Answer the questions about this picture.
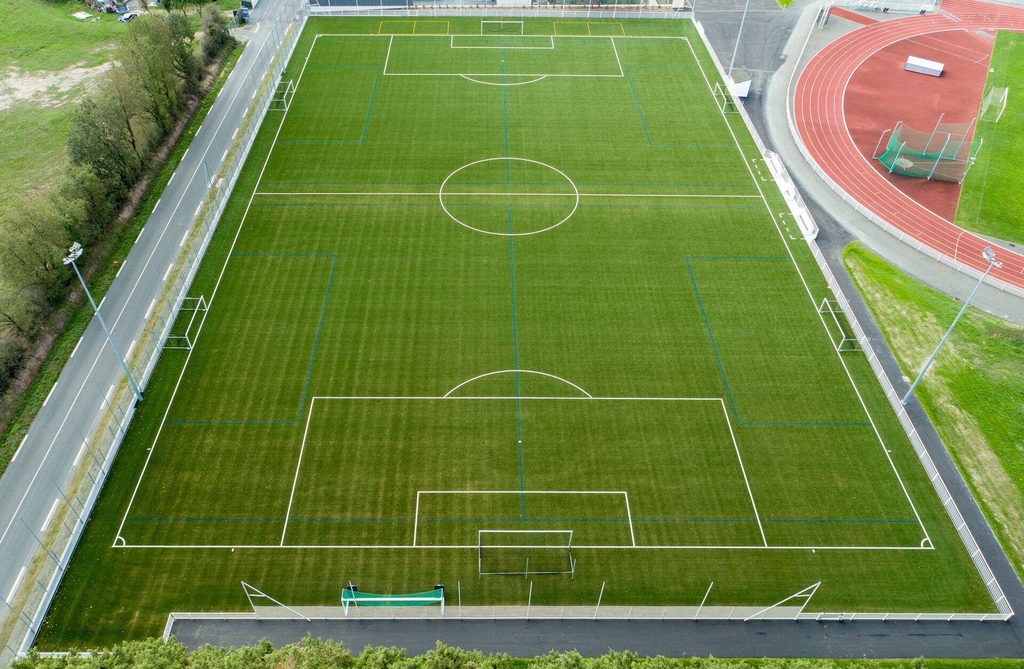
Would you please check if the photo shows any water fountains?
No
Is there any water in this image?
No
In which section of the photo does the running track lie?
top right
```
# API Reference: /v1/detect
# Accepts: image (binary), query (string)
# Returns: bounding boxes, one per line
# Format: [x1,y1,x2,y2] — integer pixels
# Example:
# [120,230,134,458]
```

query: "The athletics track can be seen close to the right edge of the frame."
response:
[794,13,1024,285]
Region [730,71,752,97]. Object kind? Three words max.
shed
